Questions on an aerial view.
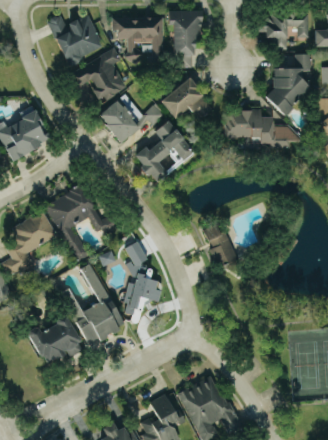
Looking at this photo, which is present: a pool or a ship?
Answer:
pool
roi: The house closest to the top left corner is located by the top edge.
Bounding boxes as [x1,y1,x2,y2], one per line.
[48,12,104,66]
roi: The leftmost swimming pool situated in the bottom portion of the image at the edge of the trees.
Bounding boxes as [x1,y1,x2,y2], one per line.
[38,254,63,277]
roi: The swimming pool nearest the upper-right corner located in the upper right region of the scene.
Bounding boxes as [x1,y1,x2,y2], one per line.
[288,107,306,131]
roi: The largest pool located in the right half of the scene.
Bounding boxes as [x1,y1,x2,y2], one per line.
[228,202,267,249]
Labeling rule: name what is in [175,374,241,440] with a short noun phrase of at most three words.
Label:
house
